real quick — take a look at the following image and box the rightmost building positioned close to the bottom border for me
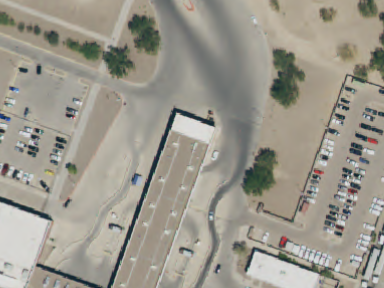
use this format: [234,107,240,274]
[247,248,318,288]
